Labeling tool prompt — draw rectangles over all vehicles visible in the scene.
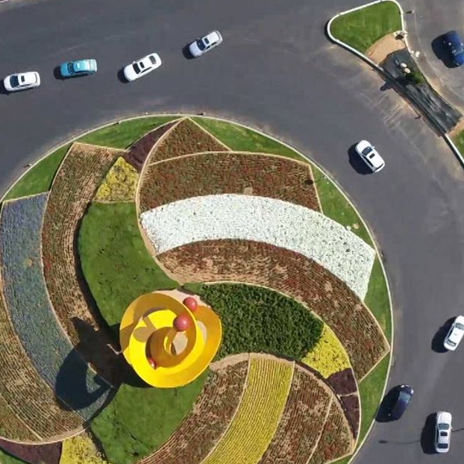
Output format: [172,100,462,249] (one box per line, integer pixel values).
[7,72,40,90]
[388,384,415,421]
[61,58,97,77]
[125,54,162,82]
[433,413,452,450]
[442,315,464,352]
[441,29,464,68]
[187,29,224,57]
[353,139,386,174]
